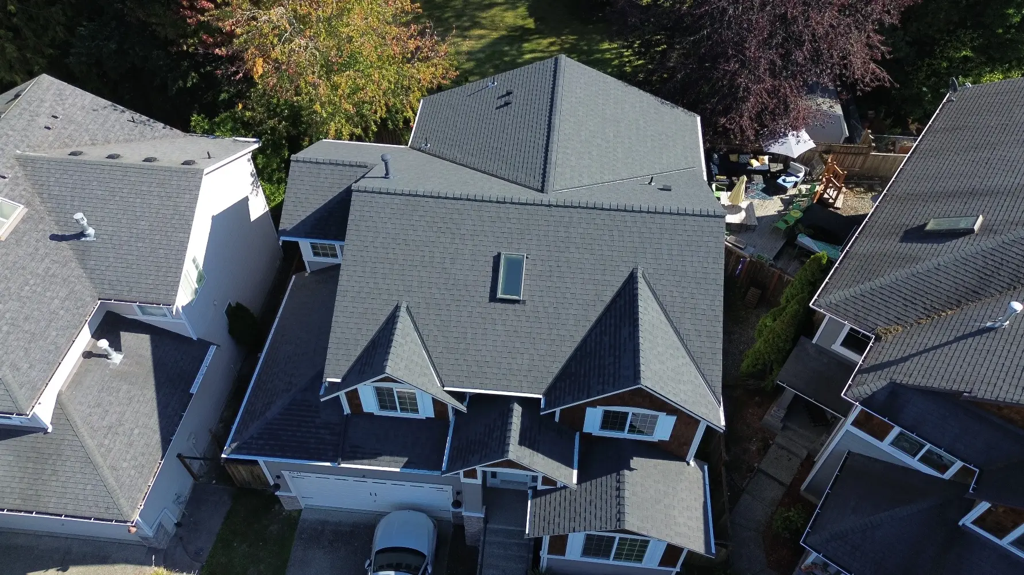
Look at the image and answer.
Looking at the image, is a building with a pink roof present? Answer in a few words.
No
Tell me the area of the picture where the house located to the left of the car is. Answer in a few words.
left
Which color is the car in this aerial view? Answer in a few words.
blue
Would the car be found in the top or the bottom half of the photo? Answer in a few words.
bottom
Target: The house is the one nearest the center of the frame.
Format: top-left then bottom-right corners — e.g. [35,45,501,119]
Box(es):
[219,53,729,575]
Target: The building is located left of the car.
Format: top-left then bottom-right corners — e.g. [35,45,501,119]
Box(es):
[0,70,288,551]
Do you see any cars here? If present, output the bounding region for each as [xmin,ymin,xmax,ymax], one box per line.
[362,513,440,575]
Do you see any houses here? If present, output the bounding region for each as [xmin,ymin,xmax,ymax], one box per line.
[219,53,729,575]
[0,70,288,551]
[772,80,1024,575]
